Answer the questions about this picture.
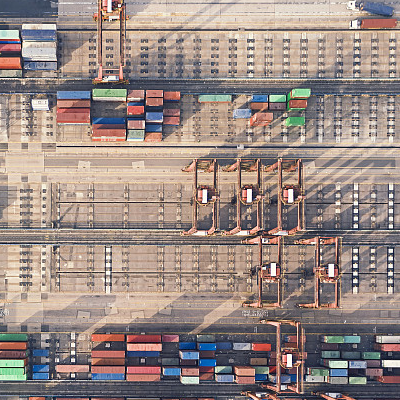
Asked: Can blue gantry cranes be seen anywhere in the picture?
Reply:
No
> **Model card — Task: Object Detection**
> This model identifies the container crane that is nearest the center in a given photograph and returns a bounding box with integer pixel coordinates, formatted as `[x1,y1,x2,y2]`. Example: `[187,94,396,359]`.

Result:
[183,159,223,237]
